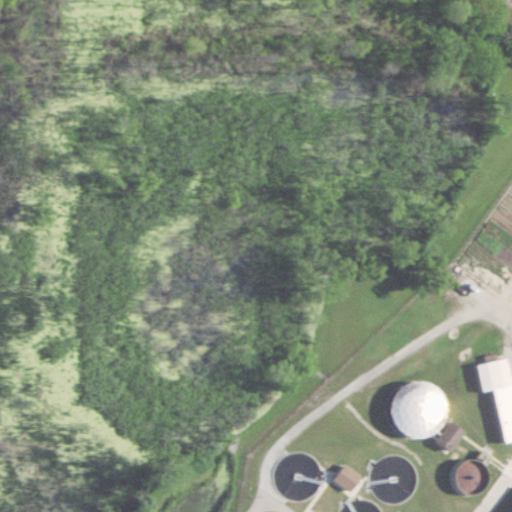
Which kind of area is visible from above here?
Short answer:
industrial area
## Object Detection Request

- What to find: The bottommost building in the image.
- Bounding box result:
[332,466,361,492]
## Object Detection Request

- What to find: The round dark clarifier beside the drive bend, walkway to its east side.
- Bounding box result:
[273,452,324,502]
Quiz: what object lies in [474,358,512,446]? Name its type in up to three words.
building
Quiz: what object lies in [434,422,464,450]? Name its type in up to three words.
building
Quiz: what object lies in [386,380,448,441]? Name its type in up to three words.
storage tank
